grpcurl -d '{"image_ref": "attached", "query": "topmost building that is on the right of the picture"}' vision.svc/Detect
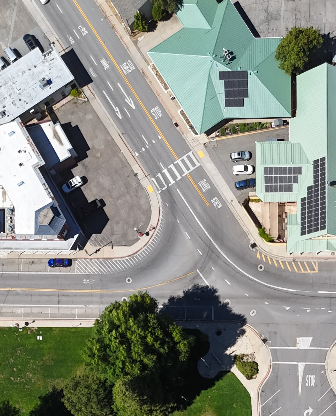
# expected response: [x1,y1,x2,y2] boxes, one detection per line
[148,0,292,135]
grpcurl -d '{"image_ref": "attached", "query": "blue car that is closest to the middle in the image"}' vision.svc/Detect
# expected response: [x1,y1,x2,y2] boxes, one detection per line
[234,178,256,191]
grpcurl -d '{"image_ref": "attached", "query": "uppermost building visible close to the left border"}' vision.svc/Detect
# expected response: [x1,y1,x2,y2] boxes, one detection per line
[0,46,80,126]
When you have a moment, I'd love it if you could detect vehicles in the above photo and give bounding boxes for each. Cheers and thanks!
[40,0,49,6]
[48,257,71,268]
[21,30,41,52]
[233,163,254,175]
[230,150,250,162]
[0,54,8,70]
[234,178,256,191]
[1,43,19,63]
[63,174,86,194]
